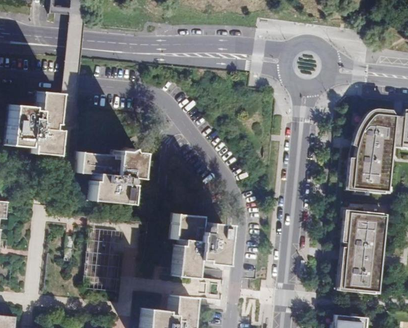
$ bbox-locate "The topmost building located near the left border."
[4,91,67,157]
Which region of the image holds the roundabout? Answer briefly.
top right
